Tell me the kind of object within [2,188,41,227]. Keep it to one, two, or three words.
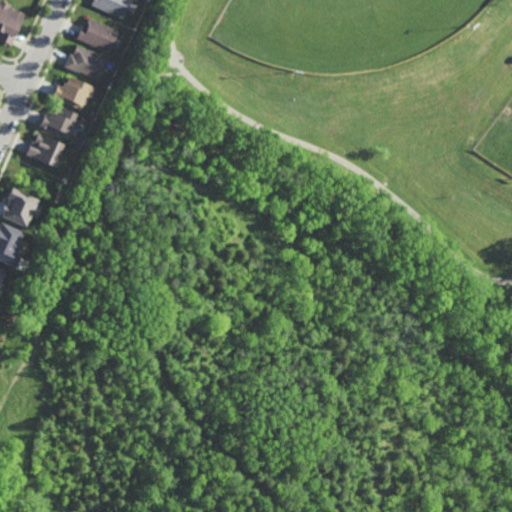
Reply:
house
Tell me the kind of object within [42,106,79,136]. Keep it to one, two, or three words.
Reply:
house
